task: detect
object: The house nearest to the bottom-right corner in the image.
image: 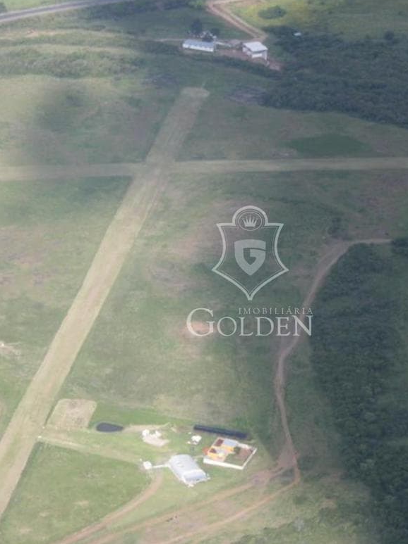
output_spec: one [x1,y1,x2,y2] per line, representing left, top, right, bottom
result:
[206,438,251,463]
